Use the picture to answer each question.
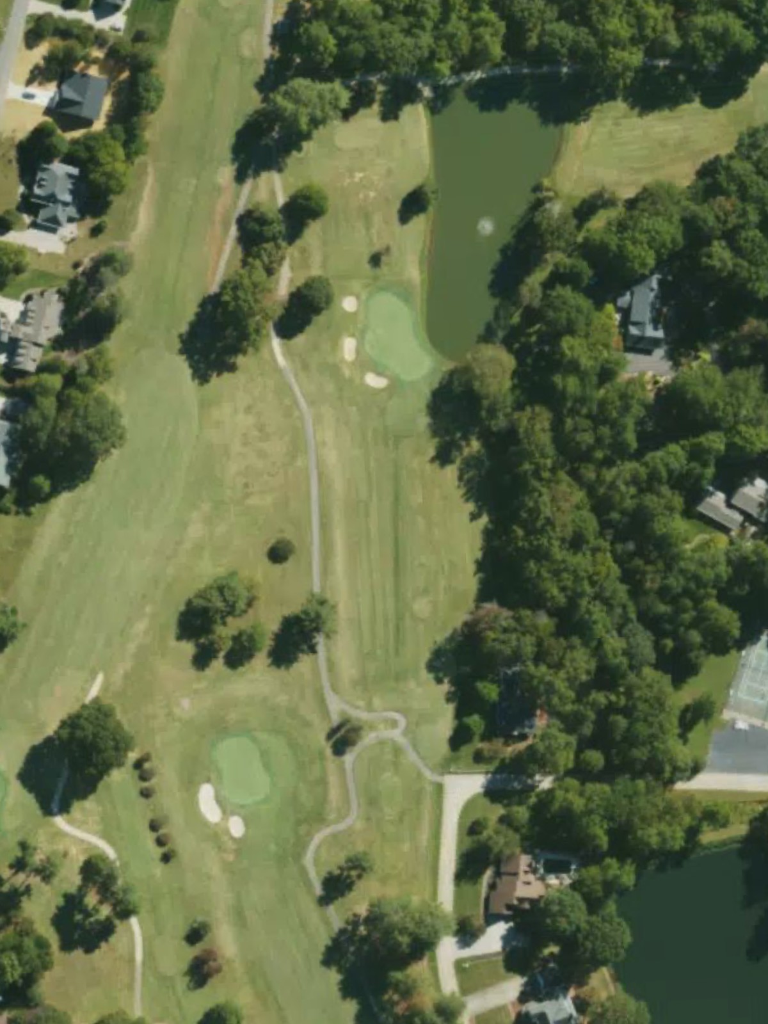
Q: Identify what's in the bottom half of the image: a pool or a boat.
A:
pool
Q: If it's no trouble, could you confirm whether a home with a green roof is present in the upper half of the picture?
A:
No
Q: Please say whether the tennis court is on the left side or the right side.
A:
right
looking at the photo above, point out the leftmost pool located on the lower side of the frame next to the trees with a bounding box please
[538,853,576,879]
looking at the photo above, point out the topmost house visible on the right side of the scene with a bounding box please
[614,270,669,350]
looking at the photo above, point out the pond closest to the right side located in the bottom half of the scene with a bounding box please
[615,835,768,1024]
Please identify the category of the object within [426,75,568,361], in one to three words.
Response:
pond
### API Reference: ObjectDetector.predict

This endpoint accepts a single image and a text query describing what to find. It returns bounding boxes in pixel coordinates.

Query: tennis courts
[720,617,768,718]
